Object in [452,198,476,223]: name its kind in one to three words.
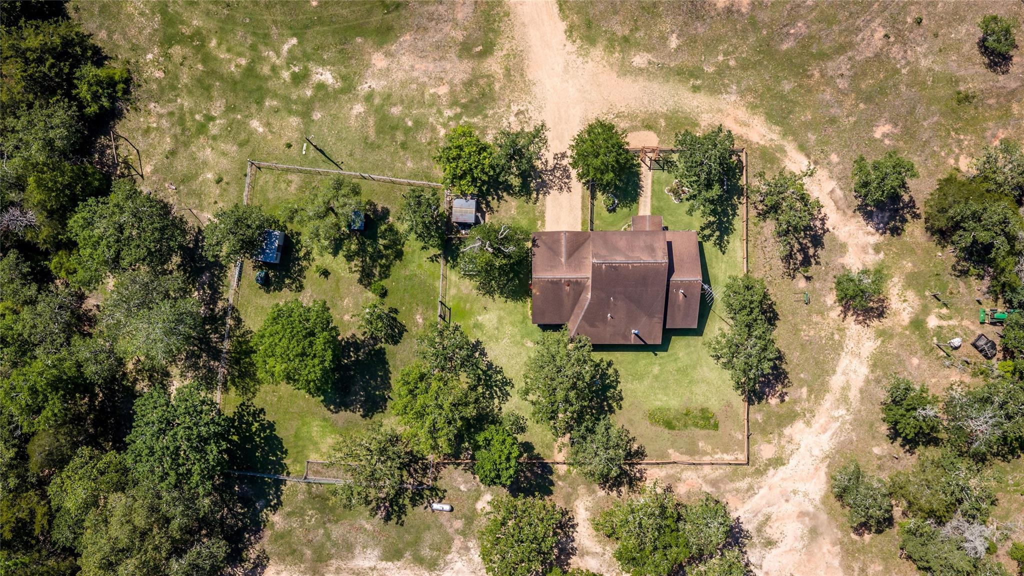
shed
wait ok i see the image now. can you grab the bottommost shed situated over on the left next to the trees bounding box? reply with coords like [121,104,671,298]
[256,231,293,263]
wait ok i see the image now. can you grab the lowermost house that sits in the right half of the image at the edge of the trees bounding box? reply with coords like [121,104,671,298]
[531,215,703,344]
